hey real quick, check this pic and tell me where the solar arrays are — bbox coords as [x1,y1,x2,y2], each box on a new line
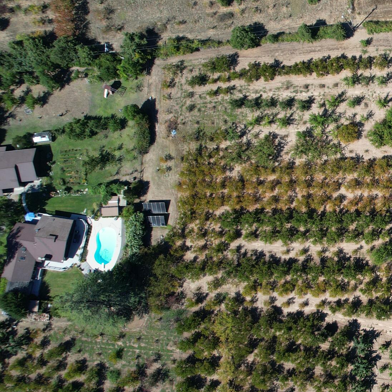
[141,202,169,213]
[147,216,168,226]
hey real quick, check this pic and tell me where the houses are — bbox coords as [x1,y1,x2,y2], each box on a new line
[0,148,44,190]
[1,215,75,293]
